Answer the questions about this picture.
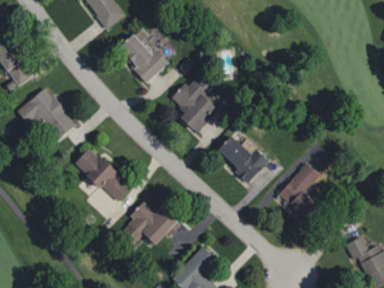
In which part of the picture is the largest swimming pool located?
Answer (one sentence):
The largest swimming pool appears toward the top of the photo.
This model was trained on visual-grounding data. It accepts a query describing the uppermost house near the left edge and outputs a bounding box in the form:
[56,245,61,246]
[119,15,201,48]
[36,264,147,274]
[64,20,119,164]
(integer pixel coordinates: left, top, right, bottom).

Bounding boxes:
[0,42,34,86]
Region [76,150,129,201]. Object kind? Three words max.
house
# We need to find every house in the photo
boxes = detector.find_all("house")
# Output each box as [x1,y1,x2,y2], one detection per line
[76,150,129,201]
[16,87,76,140]
[174,247,218,288]
[348,236,384,288]
[278,162,320,208]
[124,202,181,245]
[218,138,270,183]
[124,27,171,83]
[84,0,126,29]
[172,78,219,134]
[0,42,34,86]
